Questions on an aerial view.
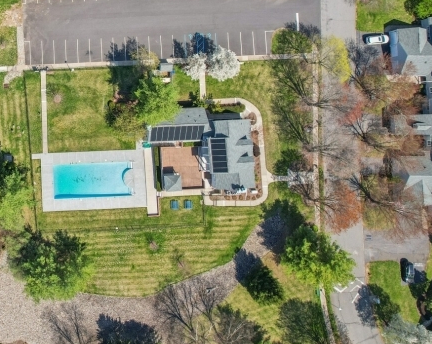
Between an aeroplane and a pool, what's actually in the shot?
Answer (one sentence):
The one in the frame is a pool.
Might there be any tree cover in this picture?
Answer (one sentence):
Yes, the picture does contain tree cover.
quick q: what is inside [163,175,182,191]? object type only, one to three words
gazebo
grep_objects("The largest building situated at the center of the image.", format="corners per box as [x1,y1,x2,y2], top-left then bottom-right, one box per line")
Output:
[148,108,255,190]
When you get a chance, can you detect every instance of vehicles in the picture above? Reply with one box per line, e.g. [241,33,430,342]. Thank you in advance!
[362,34,385,45]
[402,261,416,283]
